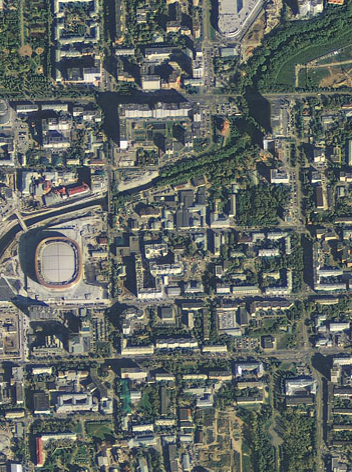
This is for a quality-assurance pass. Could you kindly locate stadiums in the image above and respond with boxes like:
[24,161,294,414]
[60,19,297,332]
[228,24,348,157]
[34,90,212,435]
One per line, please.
[35,237,82,289]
